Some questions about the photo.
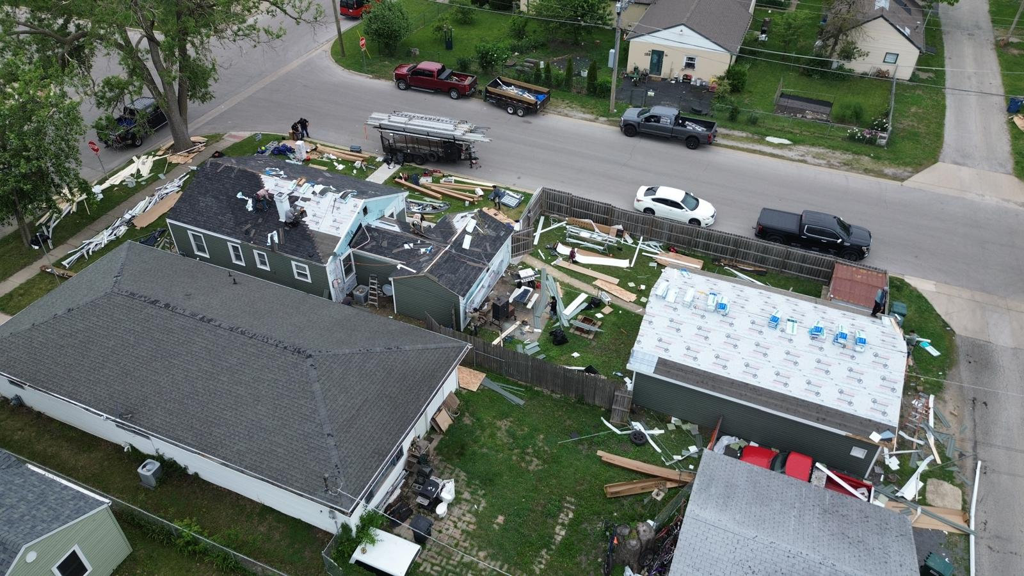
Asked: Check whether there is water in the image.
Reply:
No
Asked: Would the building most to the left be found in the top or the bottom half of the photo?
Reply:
bottom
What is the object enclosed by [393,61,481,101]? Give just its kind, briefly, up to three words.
truck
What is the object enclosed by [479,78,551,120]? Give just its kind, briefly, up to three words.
trailer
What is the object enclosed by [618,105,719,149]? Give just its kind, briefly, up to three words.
truck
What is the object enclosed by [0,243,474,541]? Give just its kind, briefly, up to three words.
house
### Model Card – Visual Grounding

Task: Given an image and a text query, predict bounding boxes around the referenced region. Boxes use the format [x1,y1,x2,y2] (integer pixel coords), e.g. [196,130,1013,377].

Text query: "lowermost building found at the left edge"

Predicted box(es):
[0,449,130,576]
